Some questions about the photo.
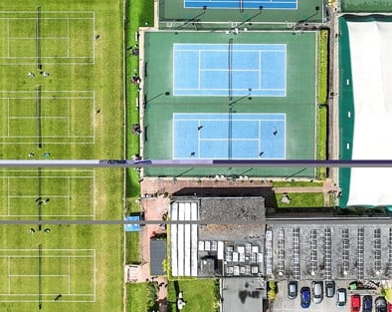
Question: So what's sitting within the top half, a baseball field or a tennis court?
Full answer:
Looking within the top half, you will find a tennis court.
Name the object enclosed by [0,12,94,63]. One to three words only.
tennis court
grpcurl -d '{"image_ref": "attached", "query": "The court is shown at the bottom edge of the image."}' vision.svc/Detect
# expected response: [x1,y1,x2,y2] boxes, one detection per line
[0,249,96,301]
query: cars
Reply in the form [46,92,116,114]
[288,279,299,298]
[336,286,345,306]
[362,293,372,312]
[350,294,359,312]
[376,297,386,312]
[301,285,312,307]
[326,279,335,298]
[313,280,323,303]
